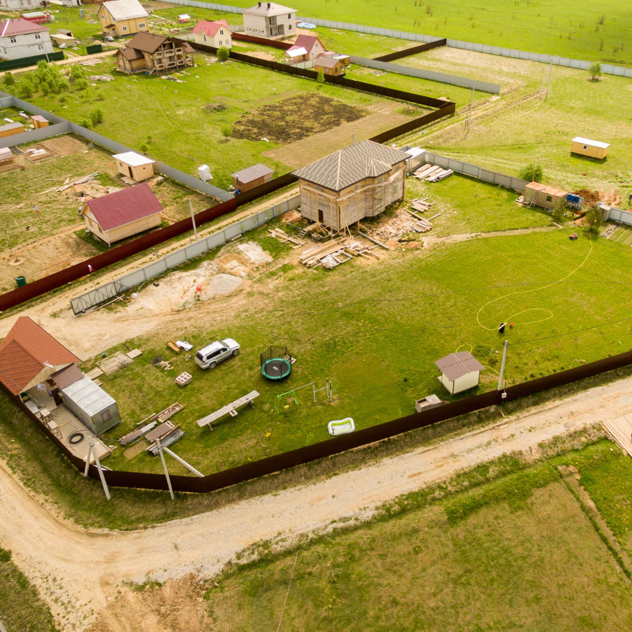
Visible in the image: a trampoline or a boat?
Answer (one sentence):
The one in the frame is a trampoline.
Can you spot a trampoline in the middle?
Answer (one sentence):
Yes, you'll find a trampoline in the middle.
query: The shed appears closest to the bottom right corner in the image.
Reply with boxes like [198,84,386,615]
[433,352,489,396]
